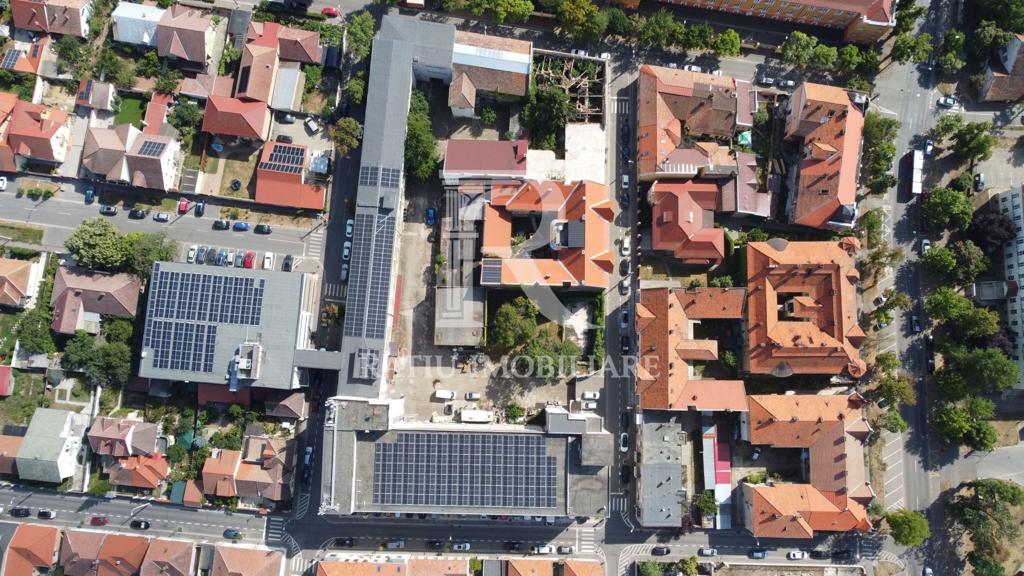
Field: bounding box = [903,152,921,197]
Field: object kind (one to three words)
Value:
vehicle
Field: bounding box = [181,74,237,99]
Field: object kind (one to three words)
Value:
building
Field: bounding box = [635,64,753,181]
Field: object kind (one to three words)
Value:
house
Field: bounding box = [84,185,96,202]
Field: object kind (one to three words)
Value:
vehicle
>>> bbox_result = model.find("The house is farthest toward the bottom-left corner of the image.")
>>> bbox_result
[4,522,68,576]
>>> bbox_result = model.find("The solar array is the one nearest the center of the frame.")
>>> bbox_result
[483,260,502,282]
